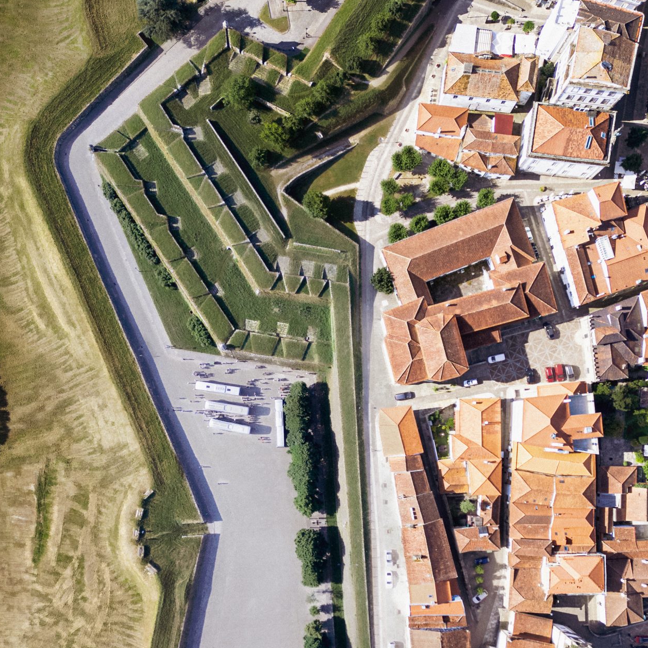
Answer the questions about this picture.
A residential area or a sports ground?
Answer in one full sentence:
The area seen from above is a residential area.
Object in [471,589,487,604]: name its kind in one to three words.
car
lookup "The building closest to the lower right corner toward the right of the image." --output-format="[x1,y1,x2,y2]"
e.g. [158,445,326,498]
[597,591,644,627]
